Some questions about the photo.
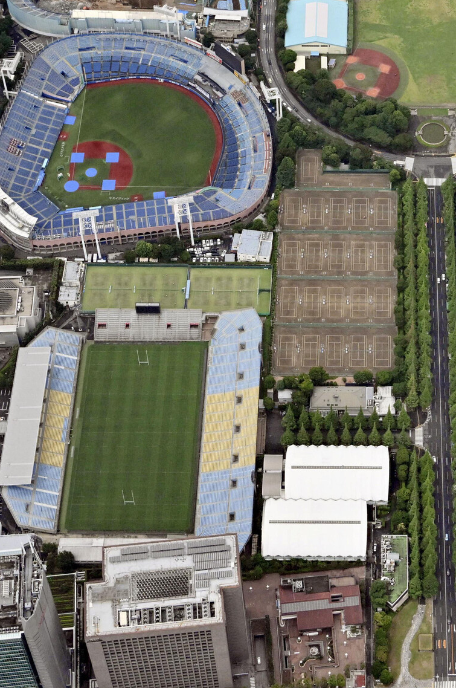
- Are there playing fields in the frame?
Yes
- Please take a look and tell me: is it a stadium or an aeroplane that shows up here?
stadium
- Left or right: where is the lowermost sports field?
left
